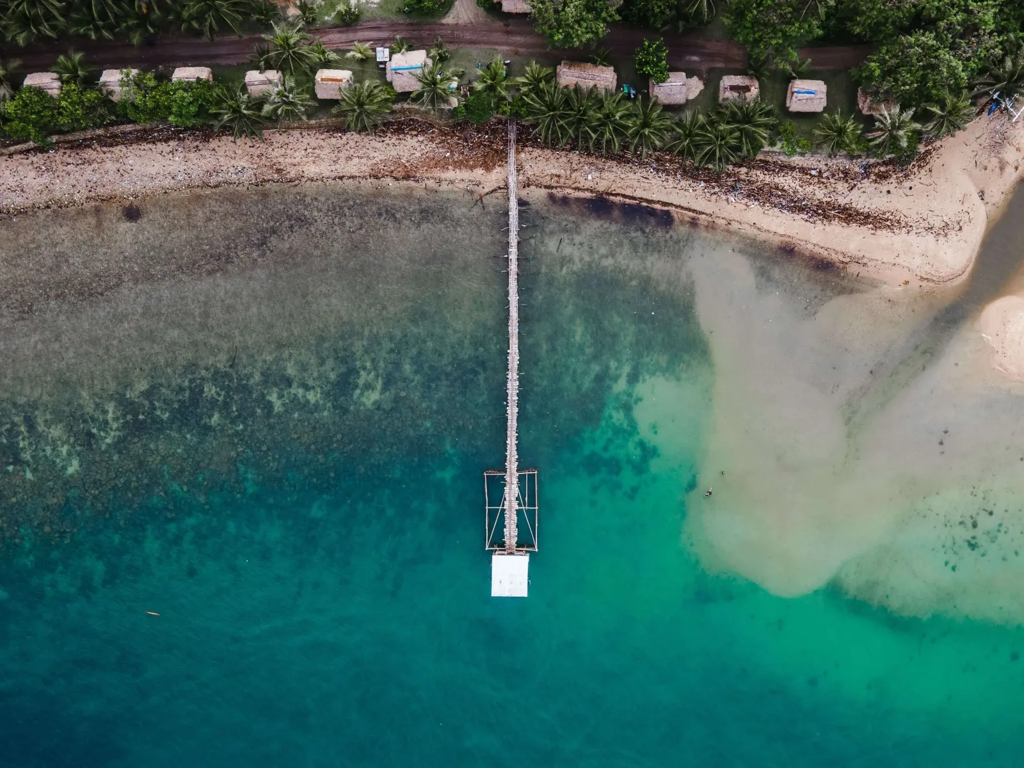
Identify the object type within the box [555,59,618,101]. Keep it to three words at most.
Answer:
shed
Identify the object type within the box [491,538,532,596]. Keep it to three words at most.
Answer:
shed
